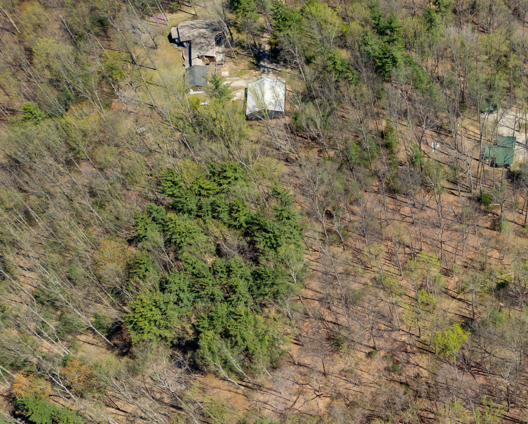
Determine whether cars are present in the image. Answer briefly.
No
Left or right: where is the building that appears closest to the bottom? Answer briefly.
right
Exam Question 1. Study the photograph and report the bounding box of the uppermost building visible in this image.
[168,18,228,72]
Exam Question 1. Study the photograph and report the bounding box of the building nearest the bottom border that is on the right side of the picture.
[483,136,519,172]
